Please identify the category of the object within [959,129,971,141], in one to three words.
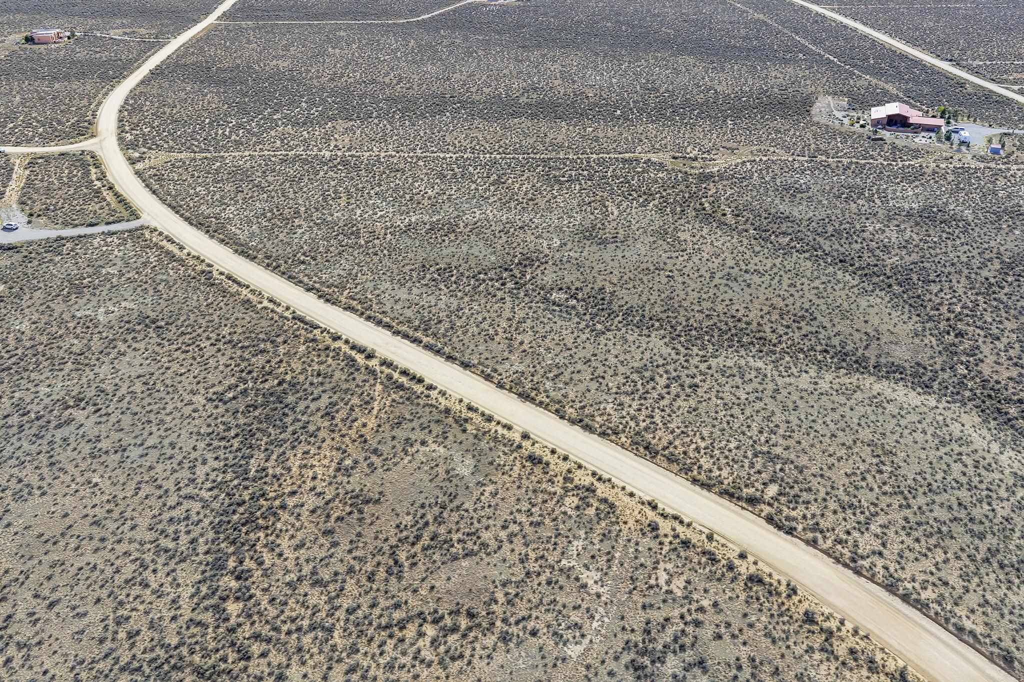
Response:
vehicle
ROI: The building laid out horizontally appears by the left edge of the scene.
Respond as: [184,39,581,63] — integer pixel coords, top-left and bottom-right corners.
[28,30,66,43]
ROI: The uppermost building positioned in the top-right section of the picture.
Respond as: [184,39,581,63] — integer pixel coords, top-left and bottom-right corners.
[870,103,944,136]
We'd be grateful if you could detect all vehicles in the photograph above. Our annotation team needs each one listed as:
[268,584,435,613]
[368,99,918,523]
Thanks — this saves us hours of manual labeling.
[2,220,19,228]
[959,129,971,141]
[947,125,964,132]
